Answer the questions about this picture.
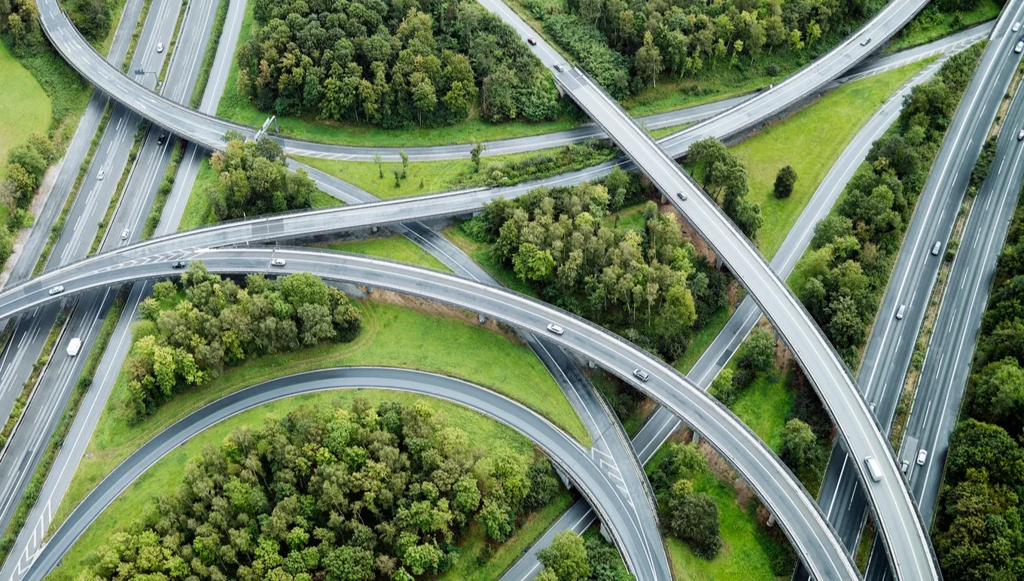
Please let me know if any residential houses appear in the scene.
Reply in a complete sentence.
No, the picture doesn't show any residential house.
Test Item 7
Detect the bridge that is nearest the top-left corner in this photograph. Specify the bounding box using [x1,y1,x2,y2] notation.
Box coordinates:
[37,0,264,156]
